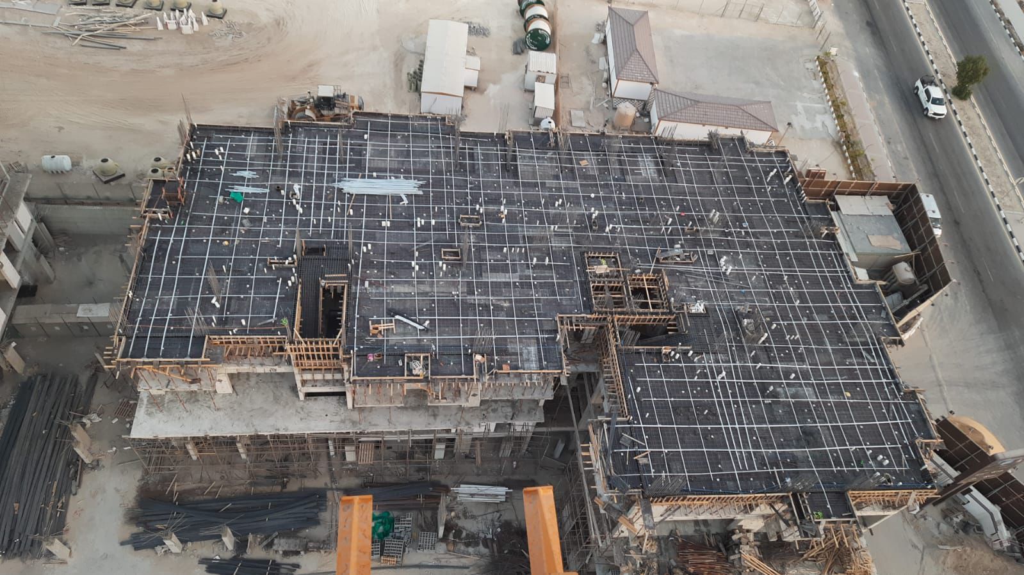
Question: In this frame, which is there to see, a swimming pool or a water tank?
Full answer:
This aerial view contains a water tank.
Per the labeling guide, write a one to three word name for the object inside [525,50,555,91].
building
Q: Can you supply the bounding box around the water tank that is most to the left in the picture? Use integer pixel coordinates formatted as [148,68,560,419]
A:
[39,158,75,182]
